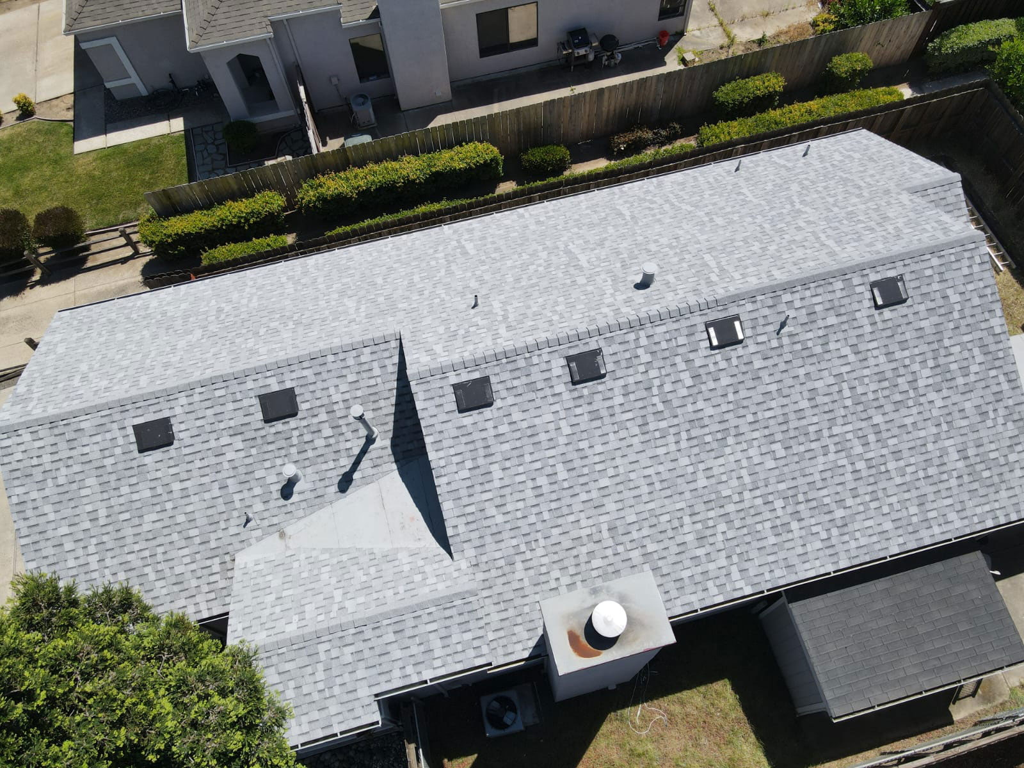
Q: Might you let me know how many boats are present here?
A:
0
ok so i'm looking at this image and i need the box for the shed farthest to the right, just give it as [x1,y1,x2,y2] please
[766,550,1024,730]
